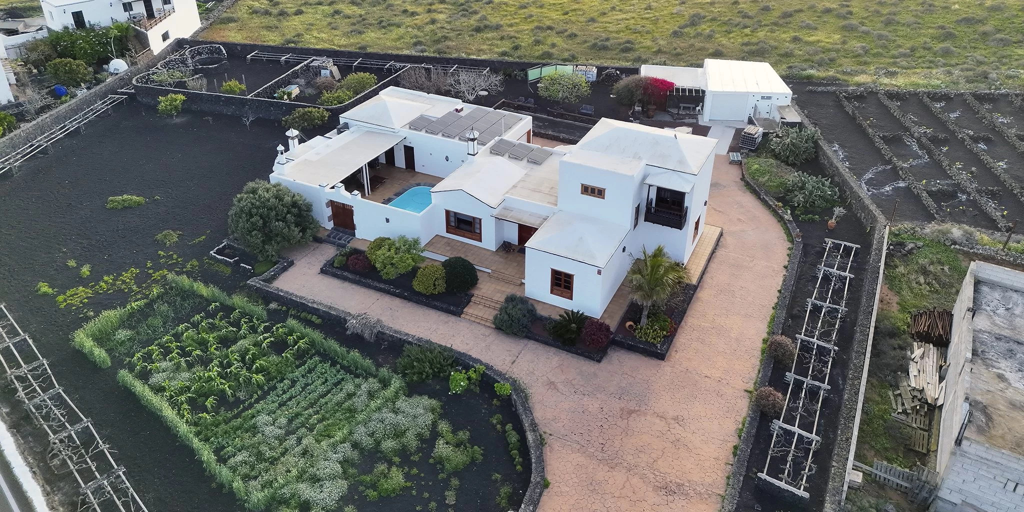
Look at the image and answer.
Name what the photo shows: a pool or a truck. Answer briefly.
pool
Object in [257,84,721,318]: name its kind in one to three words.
house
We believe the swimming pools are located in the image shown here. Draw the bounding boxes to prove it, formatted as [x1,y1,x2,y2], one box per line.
[381,182,439,236]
